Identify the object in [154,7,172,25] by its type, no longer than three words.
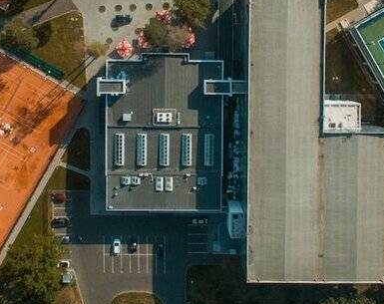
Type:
umbrella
